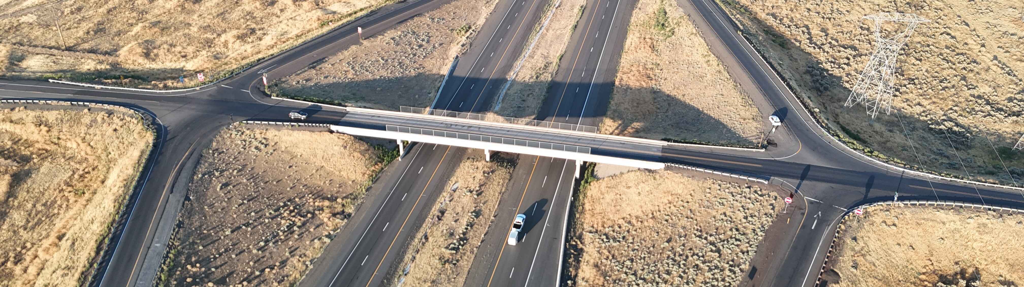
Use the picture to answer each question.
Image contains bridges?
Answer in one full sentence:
Yes, this view includes a bridge.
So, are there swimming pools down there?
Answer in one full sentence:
No, the photo shows no swimming pool.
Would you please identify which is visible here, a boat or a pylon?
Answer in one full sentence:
This aerial view contains a pylon.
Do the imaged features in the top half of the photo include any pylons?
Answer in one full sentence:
Yes, a pylon appears in the top half of the photo.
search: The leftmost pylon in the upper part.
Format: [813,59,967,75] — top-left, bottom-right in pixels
[846,11,929,116]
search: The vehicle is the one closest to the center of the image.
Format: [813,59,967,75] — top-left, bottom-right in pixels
[512,216,526,235]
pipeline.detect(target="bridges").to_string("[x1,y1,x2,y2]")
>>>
[332,107,673,179]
